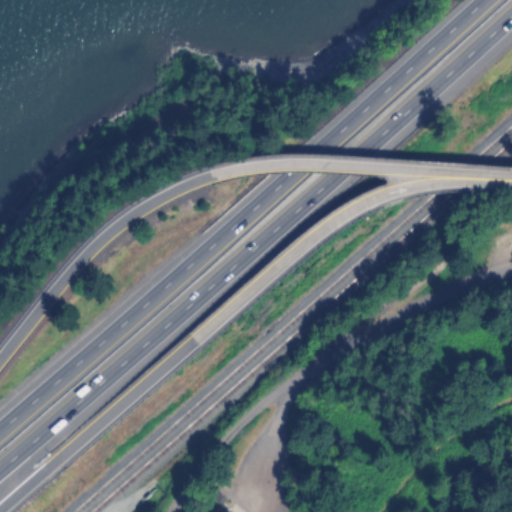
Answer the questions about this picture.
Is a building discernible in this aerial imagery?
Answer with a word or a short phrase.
No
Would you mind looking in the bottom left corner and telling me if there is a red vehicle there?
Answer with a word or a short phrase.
No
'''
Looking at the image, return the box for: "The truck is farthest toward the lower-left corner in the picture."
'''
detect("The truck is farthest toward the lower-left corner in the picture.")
[50,412,74,435]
